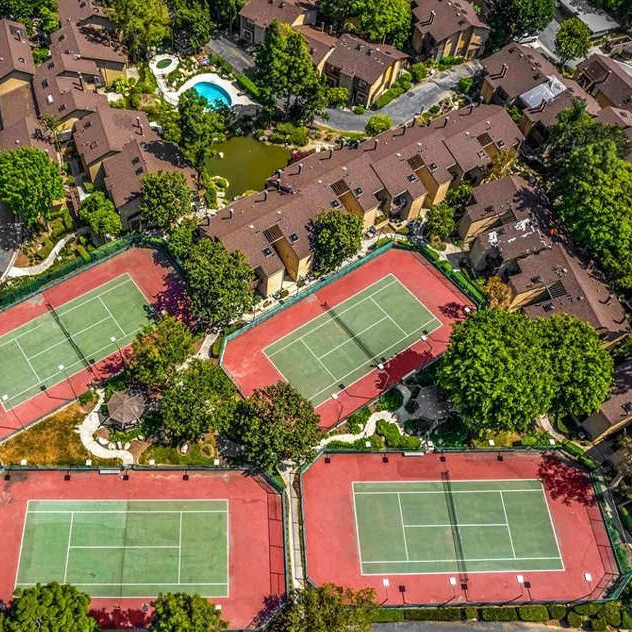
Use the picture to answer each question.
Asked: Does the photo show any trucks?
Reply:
No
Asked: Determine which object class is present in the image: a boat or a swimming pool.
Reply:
swimming pool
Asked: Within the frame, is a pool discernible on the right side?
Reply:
No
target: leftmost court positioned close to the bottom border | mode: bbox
[0,470,287,632]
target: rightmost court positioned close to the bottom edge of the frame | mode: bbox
[297,451,623,609]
